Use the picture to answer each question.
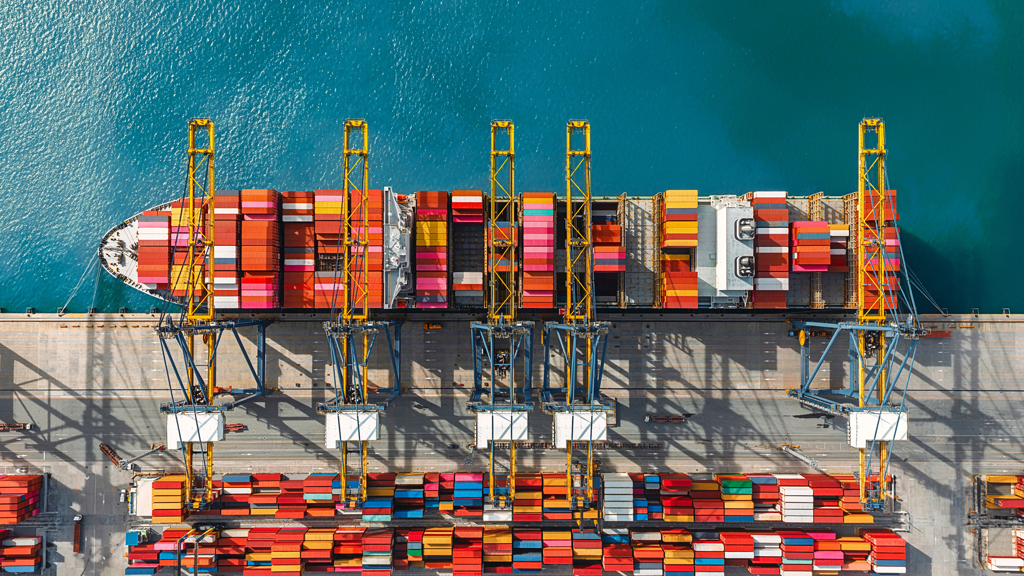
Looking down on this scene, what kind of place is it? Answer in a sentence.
This looks like a port.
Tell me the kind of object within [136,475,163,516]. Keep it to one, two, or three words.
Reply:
building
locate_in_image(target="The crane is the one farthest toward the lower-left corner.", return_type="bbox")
[175,524,219,576]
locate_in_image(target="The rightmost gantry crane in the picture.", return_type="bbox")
[778,116,926,508]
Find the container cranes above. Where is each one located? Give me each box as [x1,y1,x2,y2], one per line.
[317,117,415,508]
[152,116,286,508]
[537,117,614,508]
[175,524,219,576]
[778,116,926,508]
[465,116,538,508]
